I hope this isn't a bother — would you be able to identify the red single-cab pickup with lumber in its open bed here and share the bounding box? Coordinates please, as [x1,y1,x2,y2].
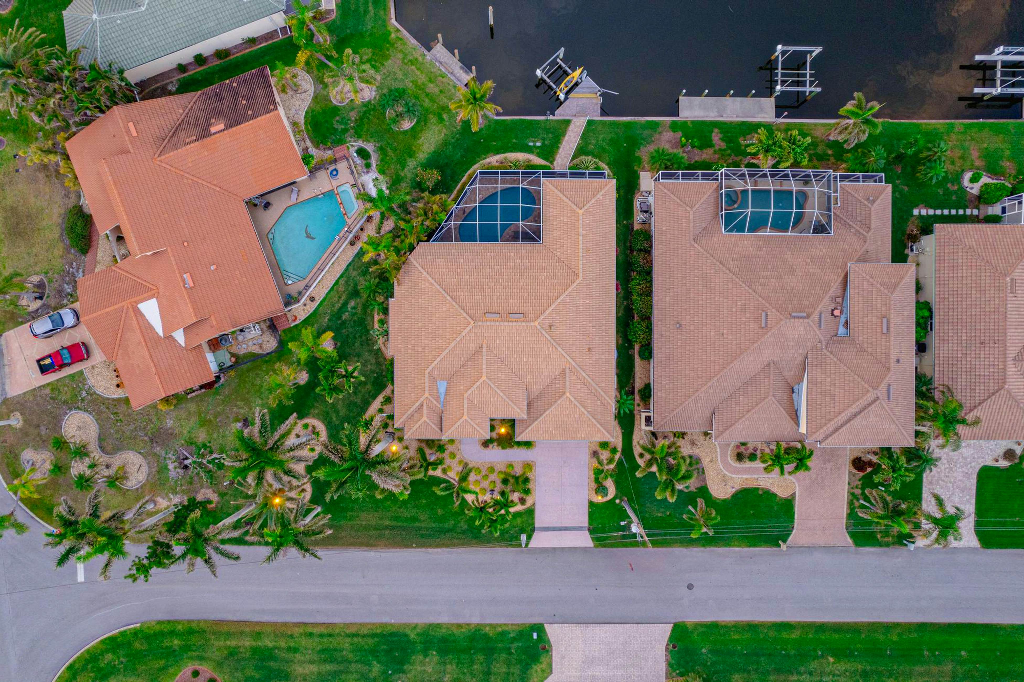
[28,343,88,378]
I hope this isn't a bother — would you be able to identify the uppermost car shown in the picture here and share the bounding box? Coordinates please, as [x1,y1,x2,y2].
[23,307,78,338]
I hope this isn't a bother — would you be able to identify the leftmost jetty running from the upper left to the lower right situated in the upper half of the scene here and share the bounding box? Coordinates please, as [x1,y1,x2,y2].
[430,43,474,85]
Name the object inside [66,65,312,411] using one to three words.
house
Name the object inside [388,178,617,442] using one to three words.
house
